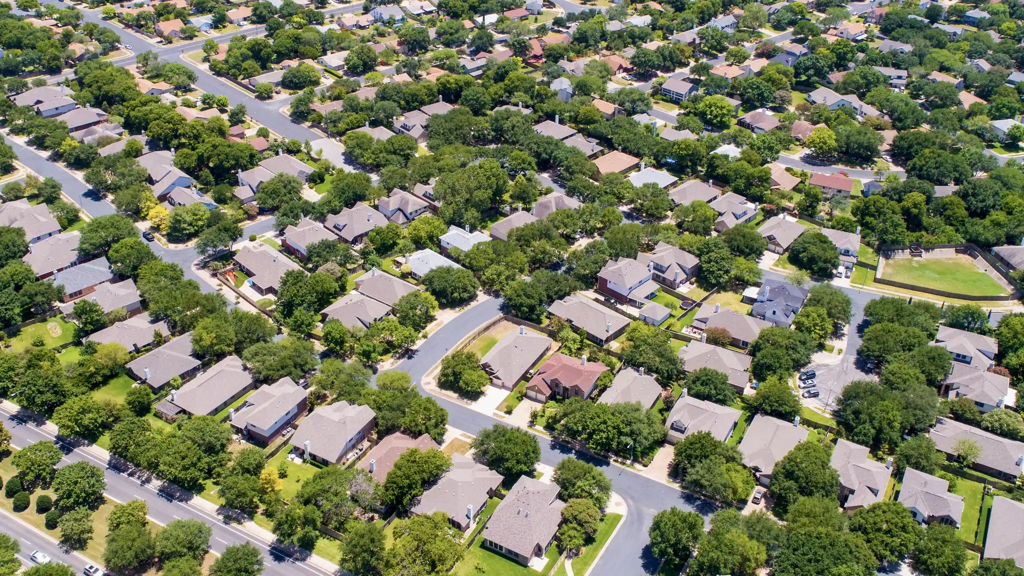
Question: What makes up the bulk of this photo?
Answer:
trees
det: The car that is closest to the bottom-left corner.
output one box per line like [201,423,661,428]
[29,552,52,566]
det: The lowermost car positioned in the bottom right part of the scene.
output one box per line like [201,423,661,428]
[750,487,765,504]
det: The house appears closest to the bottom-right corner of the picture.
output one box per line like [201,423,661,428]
[984,496,1024,571]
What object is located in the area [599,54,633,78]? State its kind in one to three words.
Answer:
house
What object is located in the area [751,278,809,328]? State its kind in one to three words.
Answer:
house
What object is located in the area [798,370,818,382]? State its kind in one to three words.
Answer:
vehicle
